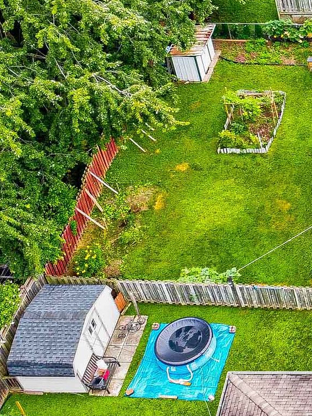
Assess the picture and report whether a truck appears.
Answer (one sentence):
No, there is no truck in the image.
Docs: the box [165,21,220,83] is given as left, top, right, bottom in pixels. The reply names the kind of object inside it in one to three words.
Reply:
shed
